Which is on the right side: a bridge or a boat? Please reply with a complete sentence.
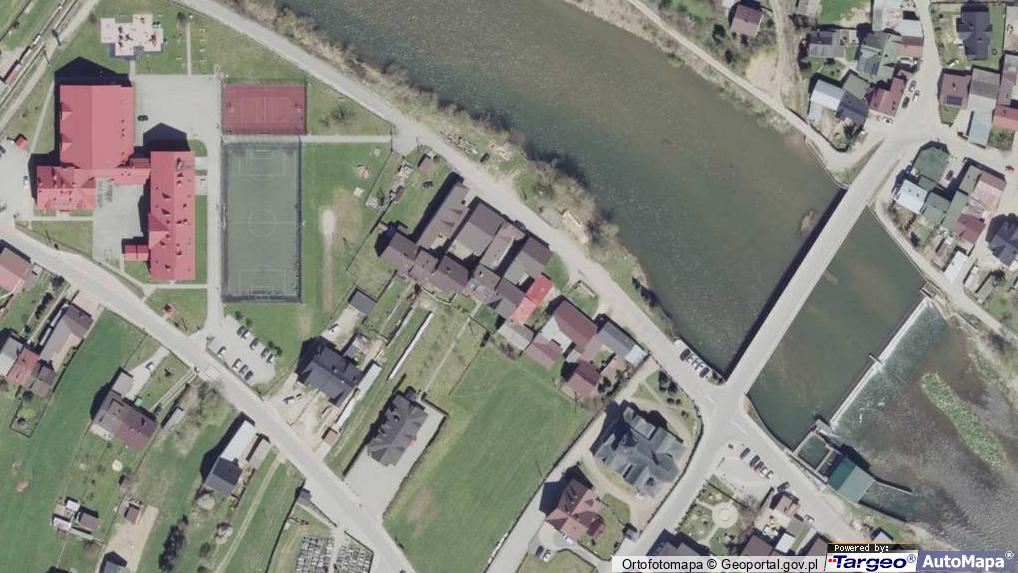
It is a bridge that can be seen on the right side.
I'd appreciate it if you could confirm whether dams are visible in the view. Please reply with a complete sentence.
Yes, there is a dam in the image.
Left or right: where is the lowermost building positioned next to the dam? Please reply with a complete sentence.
It is on the right.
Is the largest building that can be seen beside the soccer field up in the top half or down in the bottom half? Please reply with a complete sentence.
It is in the top half that the largest building that can be seen beside the soccer field appears.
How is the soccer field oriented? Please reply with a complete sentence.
From this overhead view, the soccer field appears to run up and down.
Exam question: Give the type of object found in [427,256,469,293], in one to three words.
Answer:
house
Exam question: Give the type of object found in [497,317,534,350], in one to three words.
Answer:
shed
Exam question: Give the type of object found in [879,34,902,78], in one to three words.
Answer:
building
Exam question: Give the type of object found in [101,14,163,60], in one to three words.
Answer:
playground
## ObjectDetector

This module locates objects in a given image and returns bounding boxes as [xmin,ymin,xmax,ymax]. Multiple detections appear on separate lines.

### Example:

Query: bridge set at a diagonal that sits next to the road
[724,185,869,397]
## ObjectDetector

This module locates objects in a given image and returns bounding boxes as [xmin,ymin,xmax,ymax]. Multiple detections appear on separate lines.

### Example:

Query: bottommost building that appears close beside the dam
[827,455,876,502]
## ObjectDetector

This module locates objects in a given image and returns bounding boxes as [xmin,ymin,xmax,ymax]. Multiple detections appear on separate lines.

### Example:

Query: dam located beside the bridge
[813,285,936,440]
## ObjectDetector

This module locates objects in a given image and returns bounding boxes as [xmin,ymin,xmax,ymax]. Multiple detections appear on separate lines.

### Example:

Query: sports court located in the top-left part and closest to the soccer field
[222,84,306,134]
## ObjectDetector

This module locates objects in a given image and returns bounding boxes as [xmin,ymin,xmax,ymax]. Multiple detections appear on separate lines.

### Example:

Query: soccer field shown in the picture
[222,142,301,303]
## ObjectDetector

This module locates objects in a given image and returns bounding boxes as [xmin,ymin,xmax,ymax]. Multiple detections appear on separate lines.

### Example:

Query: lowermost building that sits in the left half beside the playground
[36,85,196,280]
